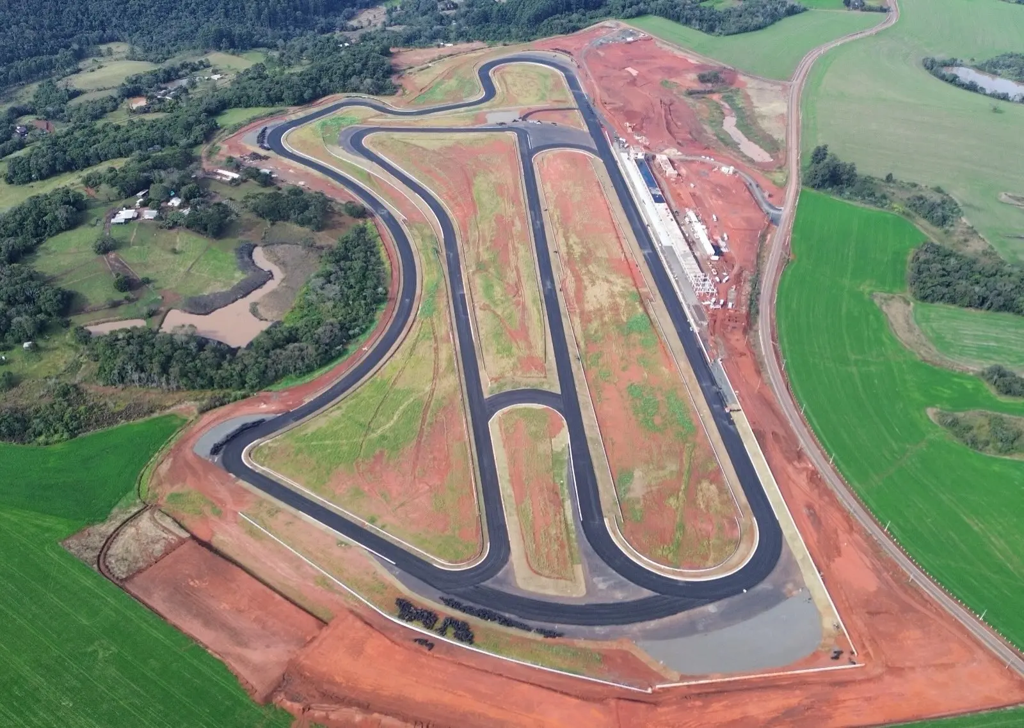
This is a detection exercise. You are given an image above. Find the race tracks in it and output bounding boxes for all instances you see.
[224,57,781,598]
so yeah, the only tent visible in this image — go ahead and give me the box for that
[687,210,715,258]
